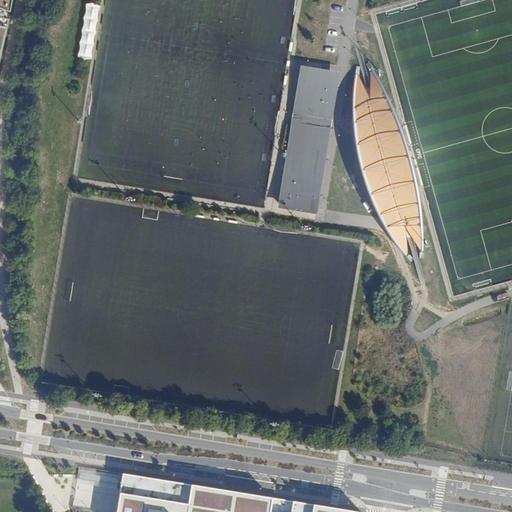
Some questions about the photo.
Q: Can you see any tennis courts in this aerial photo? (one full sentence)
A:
No, the photo shows no tennis court.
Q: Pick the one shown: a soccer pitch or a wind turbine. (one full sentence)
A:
The one in the frame is a soccer pitch.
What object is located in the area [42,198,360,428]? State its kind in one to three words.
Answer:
soccer field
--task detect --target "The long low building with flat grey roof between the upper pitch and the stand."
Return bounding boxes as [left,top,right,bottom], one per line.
[280,66,340,214]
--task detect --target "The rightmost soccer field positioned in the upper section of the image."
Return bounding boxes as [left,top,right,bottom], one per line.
[376,0,512,296]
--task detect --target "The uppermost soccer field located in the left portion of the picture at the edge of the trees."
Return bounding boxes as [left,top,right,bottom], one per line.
[78,0,294,208]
